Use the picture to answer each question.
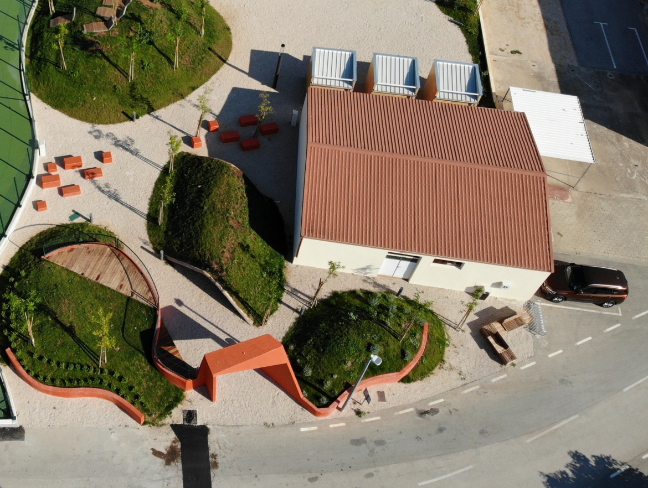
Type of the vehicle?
car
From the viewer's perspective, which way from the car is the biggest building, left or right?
left of it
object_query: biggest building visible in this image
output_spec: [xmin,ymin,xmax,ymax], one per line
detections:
[292,86,554,298]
